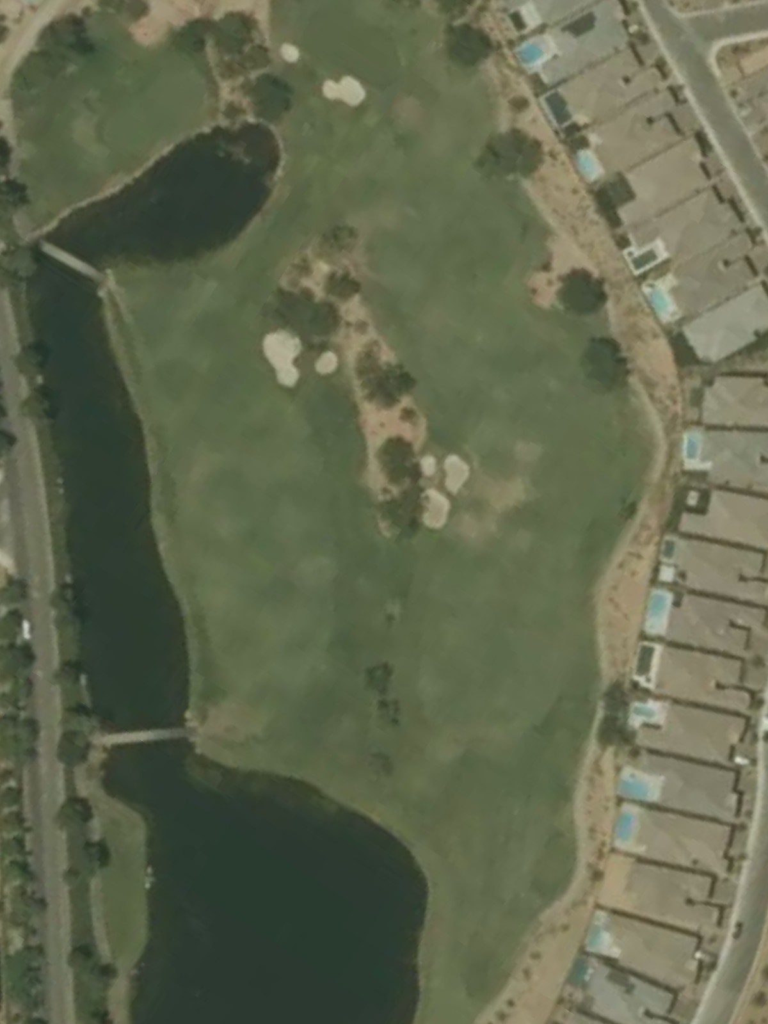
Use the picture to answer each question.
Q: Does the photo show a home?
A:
Yes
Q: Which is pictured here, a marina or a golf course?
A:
golf course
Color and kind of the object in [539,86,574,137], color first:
gray swimming pool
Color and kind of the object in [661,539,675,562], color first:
gray swimming pool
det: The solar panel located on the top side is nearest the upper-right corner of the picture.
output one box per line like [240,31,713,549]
[563,13,597,39]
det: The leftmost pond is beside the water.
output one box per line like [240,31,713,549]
[26,119,429,1024]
